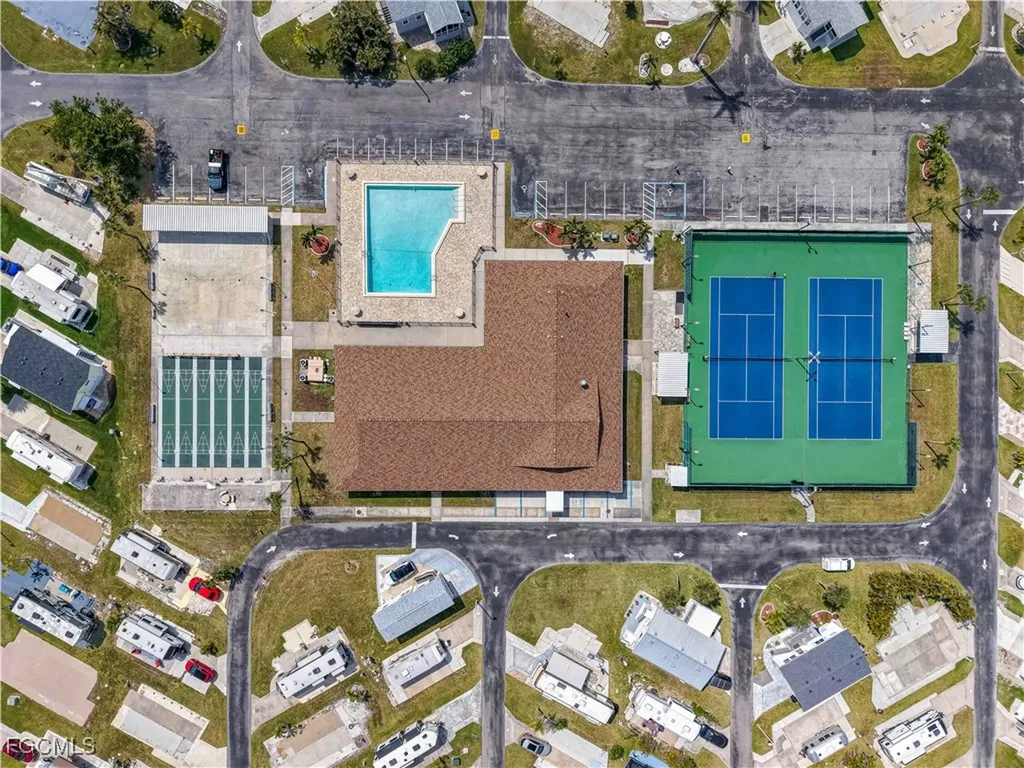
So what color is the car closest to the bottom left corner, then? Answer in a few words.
red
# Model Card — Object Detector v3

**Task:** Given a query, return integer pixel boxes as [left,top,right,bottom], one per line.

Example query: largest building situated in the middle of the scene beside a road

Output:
[334,262,623,491]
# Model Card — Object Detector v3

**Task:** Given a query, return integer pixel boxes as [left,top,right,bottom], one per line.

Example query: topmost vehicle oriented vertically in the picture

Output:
[207,150,225,192]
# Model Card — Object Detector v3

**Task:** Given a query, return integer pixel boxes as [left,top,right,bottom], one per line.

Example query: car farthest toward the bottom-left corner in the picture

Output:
[3,738,38,763]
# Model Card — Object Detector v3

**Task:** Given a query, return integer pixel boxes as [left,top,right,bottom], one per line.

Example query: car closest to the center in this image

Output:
[386,559,419,585]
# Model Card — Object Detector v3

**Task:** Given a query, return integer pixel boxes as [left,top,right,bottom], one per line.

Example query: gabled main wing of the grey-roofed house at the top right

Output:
[815,0,869,46]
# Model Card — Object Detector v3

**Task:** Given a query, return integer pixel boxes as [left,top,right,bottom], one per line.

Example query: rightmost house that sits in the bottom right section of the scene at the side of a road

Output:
[770,615,872,711]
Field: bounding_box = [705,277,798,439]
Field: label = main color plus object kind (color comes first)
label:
blue tennis court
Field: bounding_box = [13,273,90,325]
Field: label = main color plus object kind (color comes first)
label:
white camper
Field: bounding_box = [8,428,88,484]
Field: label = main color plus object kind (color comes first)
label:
white trailer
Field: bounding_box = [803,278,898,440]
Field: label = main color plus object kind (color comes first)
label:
blue tennis court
